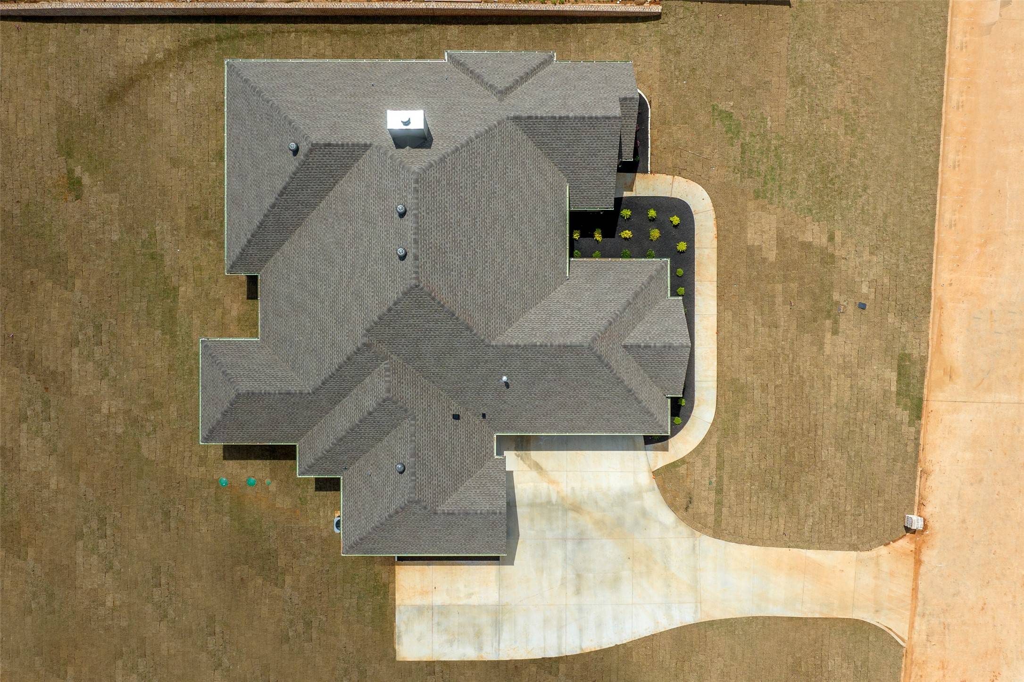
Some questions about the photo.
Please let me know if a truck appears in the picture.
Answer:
No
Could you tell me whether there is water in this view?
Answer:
No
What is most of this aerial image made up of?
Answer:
grass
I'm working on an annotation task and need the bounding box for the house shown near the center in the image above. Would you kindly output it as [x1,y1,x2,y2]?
[199,50,693,557]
